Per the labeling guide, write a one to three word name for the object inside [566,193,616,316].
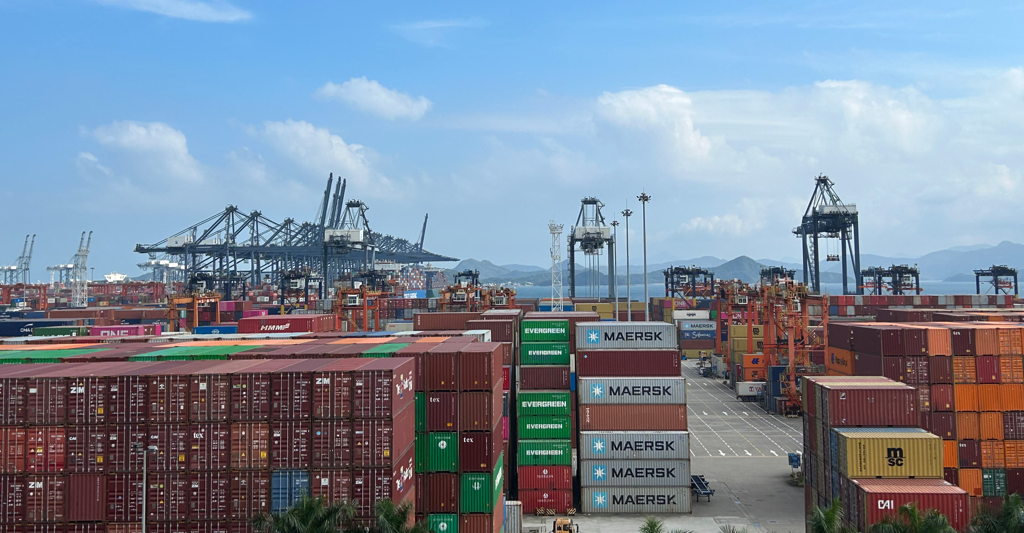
container crane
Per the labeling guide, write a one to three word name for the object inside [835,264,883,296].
container crane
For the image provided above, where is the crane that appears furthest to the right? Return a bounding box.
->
[964,263,1022,295]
